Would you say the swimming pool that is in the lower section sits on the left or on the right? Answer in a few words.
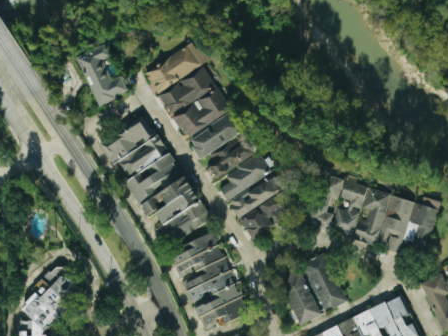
left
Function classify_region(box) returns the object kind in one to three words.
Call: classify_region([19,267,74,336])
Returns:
house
